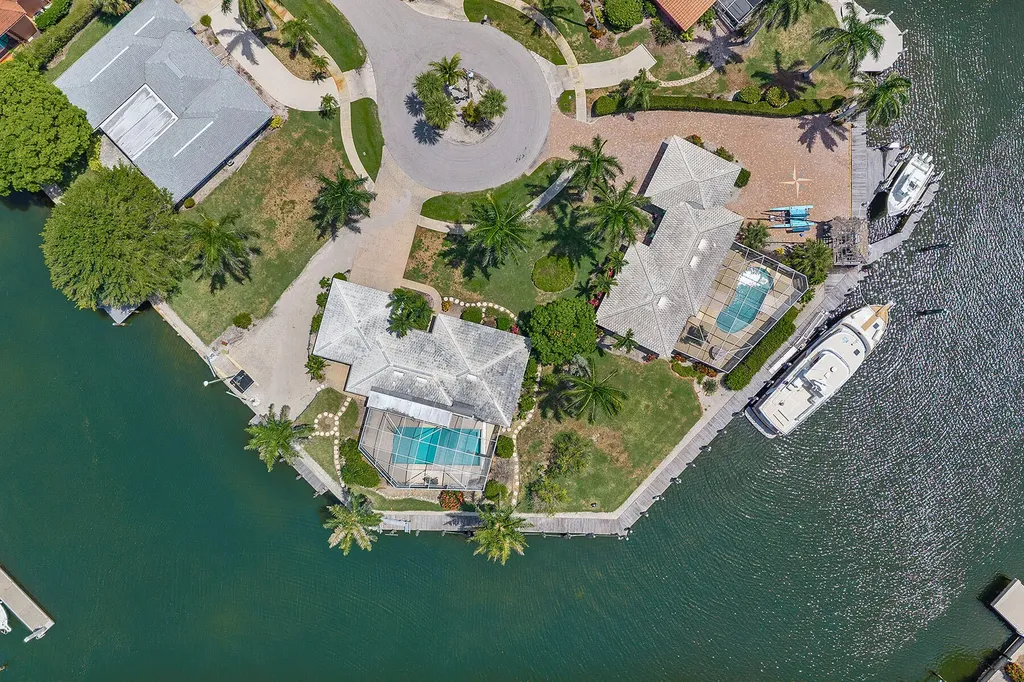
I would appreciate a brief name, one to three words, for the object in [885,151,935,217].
boat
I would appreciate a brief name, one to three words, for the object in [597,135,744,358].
house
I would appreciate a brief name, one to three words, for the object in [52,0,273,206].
house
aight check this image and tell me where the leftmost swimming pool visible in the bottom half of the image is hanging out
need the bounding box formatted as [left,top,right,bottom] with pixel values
[392,424,481,468]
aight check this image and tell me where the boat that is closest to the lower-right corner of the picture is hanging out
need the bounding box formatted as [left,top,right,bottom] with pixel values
[748,302,894,436]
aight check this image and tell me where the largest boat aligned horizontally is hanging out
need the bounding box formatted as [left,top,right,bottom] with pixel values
[762,204,816,228]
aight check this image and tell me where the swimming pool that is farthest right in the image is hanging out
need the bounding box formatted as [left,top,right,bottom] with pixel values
[715,266,775,335]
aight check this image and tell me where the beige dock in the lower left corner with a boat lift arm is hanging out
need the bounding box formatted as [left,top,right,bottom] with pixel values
[0,568,49,635]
